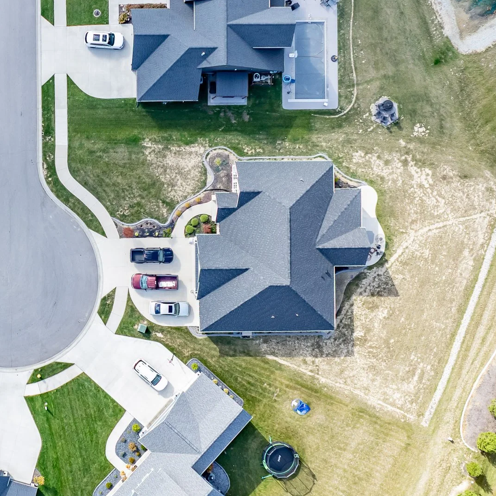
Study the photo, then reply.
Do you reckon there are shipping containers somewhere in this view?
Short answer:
No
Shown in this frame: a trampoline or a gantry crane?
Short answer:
trampoline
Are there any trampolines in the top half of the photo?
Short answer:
No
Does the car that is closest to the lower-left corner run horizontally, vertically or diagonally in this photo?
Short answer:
diagonally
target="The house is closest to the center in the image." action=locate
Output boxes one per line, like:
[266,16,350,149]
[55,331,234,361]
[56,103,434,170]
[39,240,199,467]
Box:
[189,161,371,332]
